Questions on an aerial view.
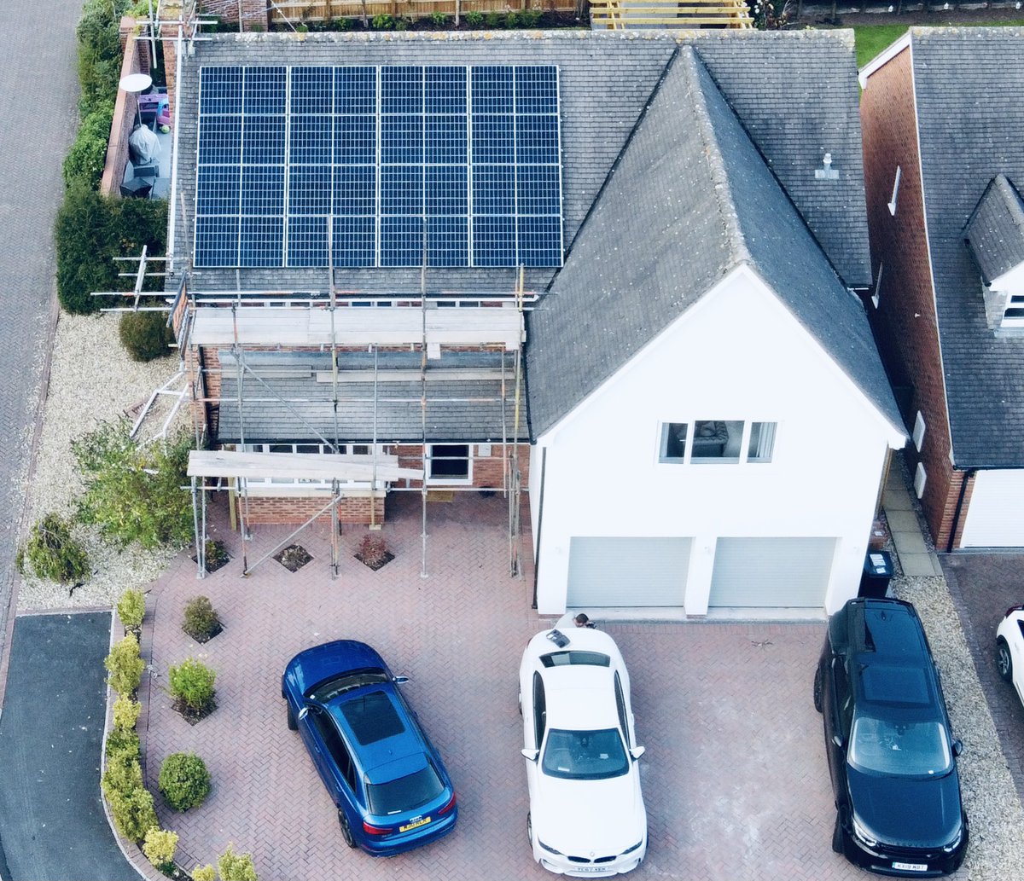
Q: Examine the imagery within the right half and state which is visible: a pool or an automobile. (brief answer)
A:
automobile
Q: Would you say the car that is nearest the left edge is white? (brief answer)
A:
No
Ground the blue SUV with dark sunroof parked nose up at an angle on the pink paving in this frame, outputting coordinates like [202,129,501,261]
[281,641,453,857]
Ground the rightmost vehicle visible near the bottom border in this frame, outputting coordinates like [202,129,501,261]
[809,597,975,873]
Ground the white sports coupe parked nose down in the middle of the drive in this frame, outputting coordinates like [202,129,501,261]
[517,625,650,879]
